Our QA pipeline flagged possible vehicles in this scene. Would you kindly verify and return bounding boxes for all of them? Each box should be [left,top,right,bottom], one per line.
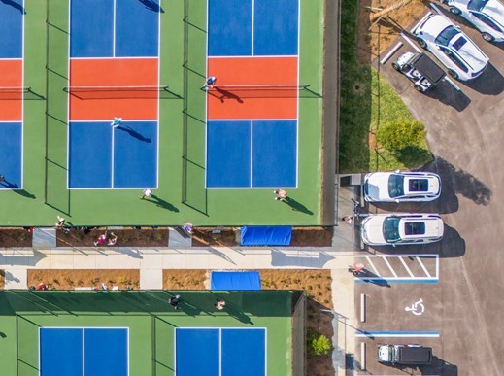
[417,15,486,79]
[393,48,444,91]
[361,210,444,248]
[448,0,504,40]
[375,341,431,367]
[363,167,441,204]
